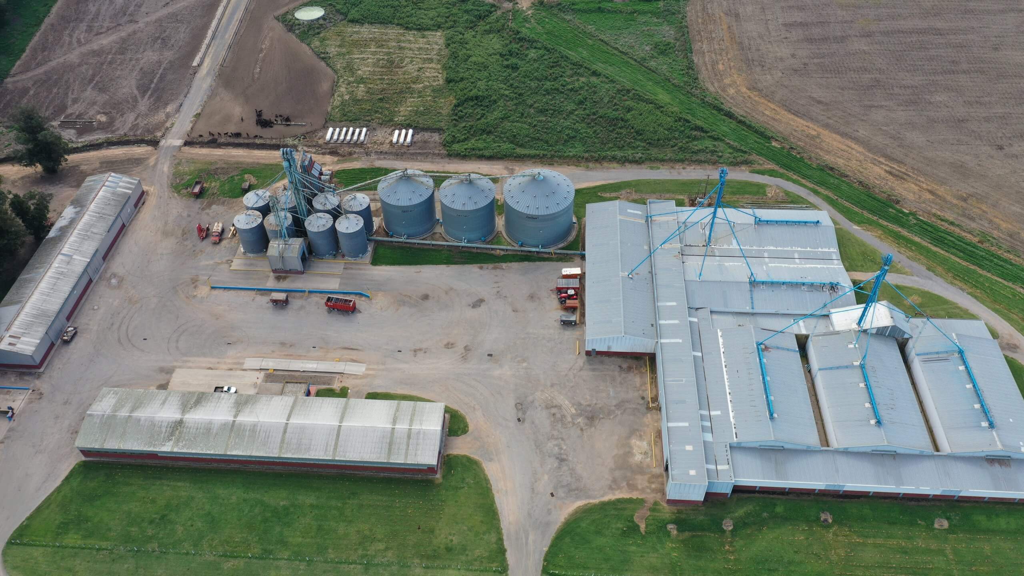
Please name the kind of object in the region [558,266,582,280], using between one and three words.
camper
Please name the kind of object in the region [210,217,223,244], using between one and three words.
vehicle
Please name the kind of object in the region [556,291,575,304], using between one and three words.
vehicle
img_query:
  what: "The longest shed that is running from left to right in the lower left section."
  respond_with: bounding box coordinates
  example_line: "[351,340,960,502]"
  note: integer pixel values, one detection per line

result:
[75,387,451,478]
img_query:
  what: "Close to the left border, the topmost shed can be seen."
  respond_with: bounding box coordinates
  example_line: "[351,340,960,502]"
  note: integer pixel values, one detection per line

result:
[0,172,149,373]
